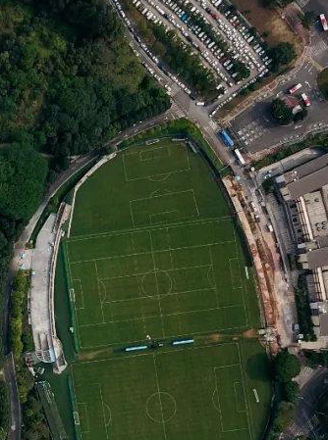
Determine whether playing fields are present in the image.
Yes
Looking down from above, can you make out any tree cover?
Yes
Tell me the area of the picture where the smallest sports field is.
center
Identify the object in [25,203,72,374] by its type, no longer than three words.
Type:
building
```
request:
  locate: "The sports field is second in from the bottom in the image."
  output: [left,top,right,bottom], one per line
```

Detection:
[66,216,249,349]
